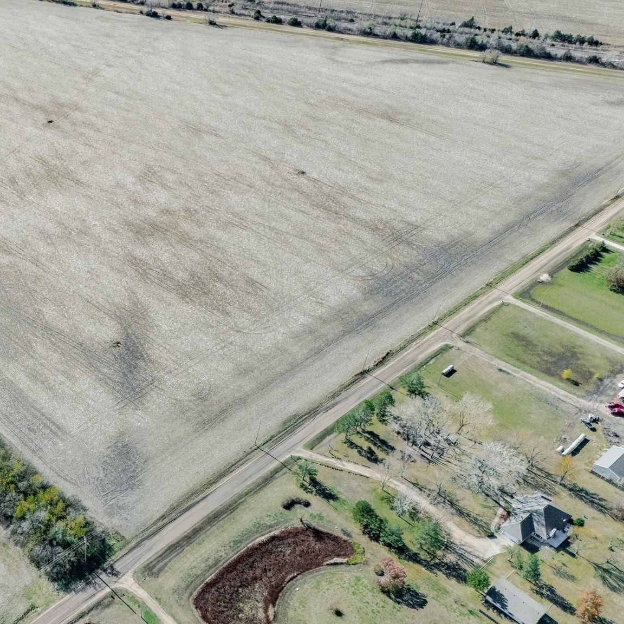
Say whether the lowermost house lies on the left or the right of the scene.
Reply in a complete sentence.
It is on the right.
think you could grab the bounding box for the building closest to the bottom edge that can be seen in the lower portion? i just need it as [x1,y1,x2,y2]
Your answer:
[485,577,548,624]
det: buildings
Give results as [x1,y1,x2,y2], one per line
[485,577,548,624]
[590,446,624,487]
[496,483,577,548]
